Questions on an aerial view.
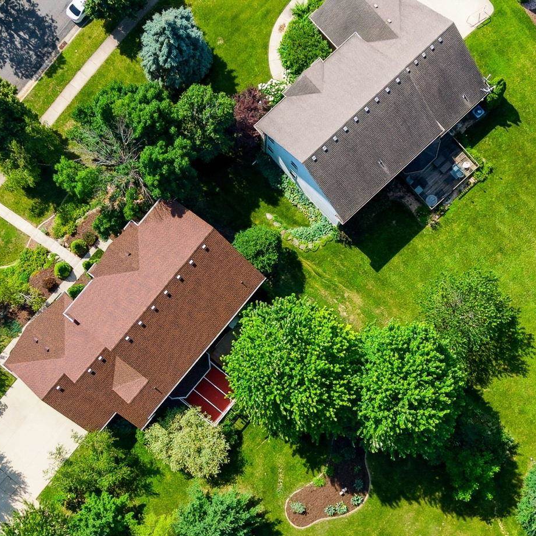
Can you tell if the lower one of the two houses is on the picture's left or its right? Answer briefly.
left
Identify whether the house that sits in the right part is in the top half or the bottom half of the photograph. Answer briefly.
top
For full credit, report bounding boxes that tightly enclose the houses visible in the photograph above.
[254,0,499,229]
[3,200,266,437]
